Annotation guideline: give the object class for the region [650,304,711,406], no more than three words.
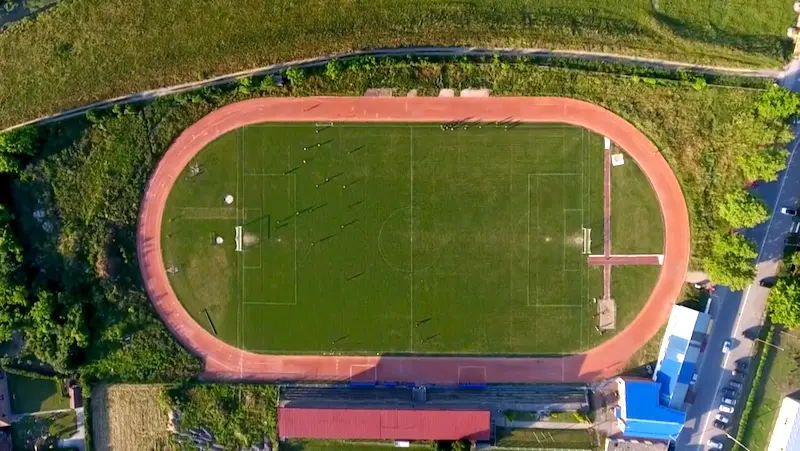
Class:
building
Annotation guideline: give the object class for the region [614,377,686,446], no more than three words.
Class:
building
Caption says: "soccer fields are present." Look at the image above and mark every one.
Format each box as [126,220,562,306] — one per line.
[238,126,590,351]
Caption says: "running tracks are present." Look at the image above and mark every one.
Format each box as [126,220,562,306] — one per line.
[138,98,692,381]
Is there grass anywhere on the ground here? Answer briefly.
Yes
